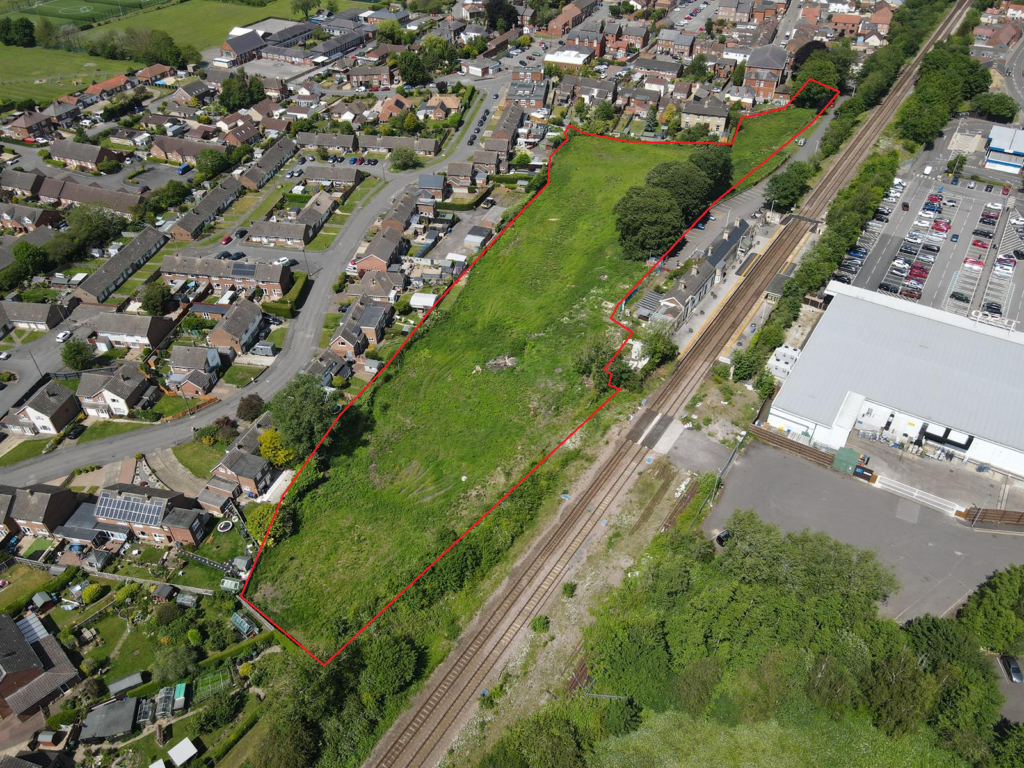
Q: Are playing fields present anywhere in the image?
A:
Yes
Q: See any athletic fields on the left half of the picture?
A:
Yes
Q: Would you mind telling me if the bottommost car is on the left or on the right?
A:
right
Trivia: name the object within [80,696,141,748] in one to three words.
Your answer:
shed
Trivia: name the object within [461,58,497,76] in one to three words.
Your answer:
building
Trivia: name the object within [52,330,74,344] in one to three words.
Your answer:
car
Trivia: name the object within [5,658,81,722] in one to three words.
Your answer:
house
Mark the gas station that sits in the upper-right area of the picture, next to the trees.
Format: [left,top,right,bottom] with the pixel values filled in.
[985,125,1024,174]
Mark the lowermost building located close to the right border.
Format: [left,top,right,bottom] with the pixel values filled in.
[764,279,1024,488]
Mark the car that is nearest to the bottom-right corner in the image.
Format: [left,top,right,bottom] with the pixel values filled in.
[993,653,1024,686]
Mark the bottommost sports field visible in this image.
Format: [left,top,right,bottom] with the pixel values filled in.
[0,46,153,122]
